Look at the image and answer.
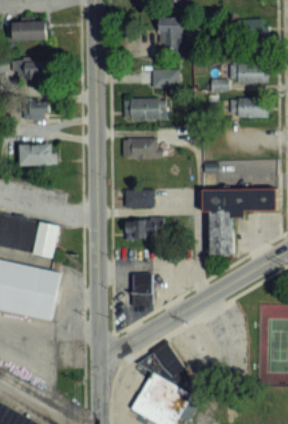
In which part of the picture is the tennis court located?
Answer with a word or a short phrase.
bottom right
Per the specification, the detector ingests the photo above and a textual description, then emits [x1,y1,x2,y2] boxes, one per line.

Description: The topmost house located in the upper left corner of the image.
[12,18,48,40]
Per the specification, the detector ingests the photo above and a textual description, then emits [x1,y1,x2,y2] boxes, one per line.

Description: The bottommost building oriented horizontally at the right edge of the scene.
[200,188,276,217]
